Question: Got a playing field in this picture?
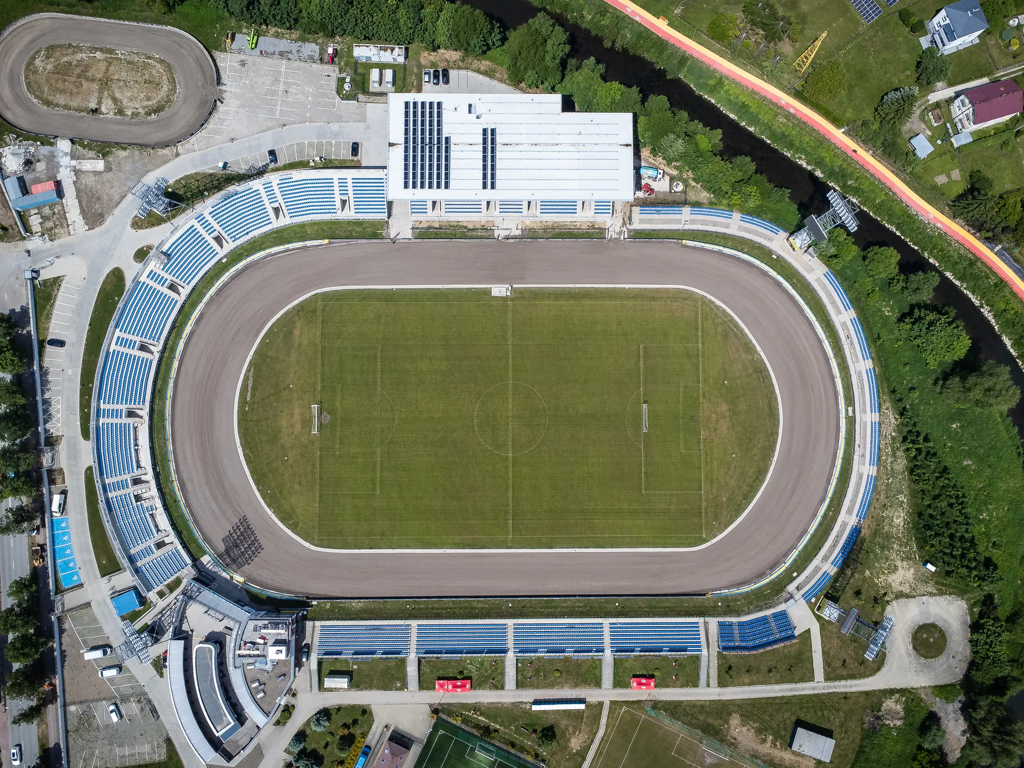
Yes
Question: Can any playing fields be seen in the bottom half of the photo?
Yes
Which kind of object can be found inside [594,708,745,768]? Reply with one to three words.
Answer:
sports field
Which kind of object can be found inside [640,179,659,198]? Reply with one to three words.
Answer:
work vehicle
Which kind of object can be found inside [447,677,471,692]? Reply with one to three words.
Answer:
tent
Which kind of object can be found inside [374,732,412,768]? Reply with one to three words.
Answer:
house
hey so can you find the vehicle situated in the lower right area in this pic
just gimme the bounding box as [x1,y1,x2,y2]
[922,561,940,573]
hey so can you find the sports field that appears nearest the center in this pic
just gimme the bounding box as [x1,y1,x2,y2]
[317,302,703,538]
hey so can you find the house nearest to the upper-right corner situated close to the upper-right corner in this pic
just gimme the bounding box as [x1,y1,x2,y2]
[929,0,988,50]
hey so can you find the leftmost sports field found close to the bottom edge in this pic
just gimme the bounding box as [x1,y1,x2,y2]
[413,716,537,768]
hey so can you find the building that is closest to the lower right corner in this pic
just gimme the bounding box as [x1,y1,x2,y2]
[786,720,835,762]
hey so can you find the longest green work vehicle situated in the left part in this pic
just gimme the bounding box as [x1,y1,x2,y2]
[244,24,257,50]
